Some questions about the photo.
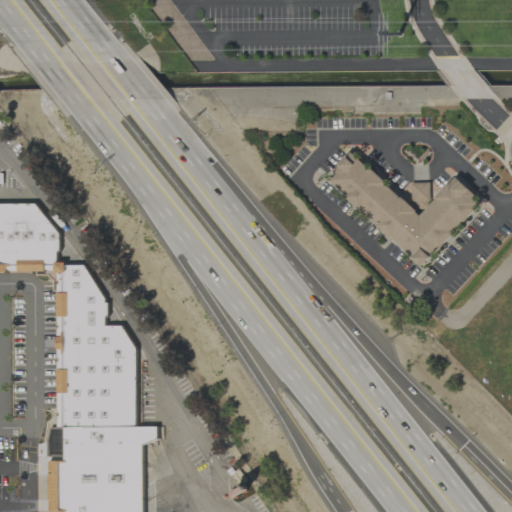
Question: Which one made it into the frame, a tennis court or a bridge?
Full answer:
This aerial view contains a bridge.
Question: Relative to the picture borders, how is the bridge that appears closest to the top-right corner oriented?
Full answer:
In this picture, the bridge that appears closest to the top-right corner is oriented on a diagonal.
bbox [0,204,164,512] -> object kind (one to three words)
building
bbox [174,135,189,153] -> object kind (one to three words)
vehicle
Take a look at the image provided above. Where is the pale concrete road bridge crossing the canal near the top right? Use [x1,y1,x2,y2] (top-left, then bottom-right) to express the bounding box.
[434,56,502,100]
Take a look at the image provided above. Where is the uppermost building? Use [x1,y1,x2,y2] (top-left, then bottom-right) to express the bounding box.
[330,154,476,268]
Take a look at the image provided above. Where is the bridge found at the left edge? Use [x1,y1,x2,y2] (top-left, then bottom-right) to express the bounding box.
[0,22,182,112]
